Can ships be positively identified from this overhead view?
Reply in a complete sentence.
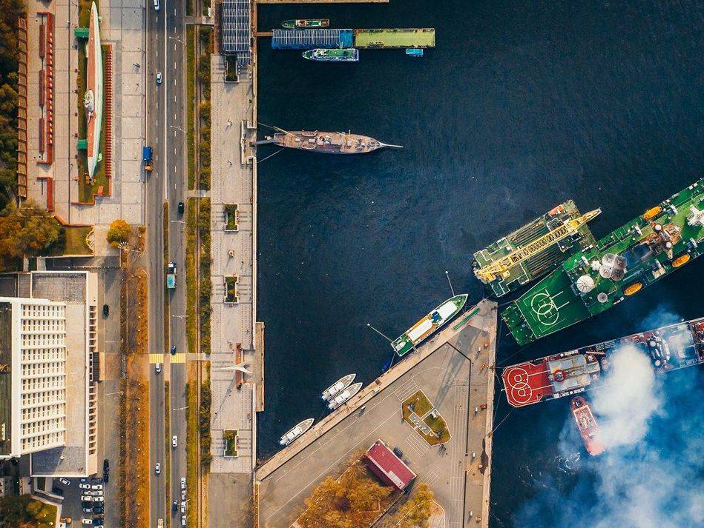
Yes, there is a ship in the image.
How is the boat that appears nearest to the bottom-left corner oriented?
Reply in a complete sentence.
From this overhead view, the boat that appears nearest to the bottom-left corner appears to run at an angle.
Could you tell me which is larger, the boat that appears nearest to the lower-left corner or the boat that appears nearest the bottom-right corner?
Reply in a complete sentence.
The boat that appears nearest to the lower-left corner is smaller than the boat that appears nearest the bottom-right corner.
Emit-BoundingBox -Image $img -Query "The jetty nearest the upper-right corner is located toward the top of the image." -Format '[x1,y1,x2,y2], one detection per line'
[354,28,436,49]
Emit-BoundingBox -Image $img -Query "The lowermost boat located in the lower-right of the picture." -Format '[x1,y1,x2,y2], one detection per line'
[573,397,606,460]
